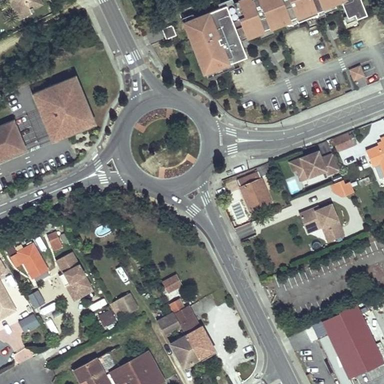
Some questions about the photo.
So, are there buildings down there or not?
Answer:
Yes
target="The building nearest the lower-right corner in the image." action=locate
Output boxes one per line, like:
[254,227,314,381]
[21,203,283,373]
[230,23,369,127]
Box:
[312,307,384,384]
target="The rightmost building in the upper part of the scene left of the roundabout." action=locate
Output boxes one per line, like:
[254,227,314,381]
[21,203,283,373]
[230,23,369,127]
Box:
[33,76,96,144]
